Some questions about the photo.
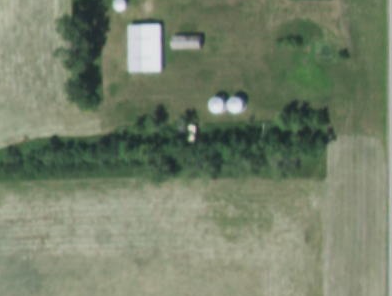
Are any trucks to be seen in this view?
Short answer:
No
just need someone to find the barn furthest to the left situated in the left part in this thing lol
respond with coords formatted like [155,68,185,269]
[129,24,163,72]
